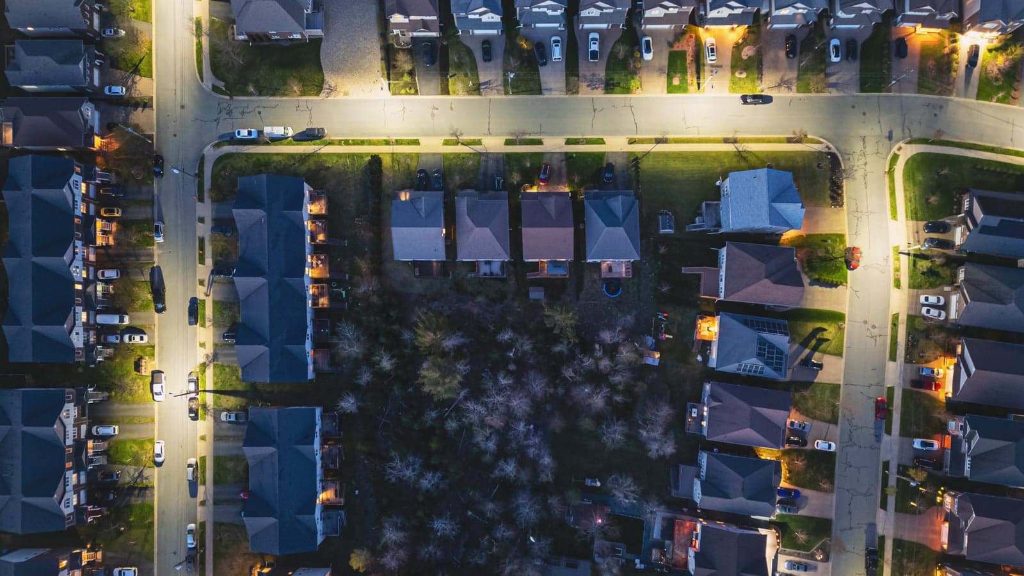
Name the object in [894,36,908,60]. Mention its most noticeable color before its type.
black car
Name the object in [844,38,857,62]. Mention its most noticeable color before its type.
black vehicle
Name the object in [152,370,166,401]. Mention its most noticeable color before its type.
white vehicle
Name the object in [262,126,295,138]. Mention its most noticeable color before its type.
white vehicle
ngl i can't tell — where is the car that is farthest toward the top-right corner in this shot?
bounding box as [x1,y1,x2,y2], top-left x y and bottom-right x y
[965,44,981,70]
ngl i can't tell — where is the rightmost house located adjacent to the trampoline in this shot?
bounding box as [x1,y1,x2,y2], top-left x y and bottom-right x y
[583,190,640,277]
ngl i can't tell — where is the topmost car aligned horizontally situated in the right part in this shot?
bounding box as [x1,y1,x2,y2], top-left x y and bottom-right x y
[740,93,767,106]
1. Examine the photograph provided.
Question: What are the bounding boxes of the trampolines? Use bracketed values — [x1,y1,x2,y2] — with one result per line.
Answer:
[603,278,622,298]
